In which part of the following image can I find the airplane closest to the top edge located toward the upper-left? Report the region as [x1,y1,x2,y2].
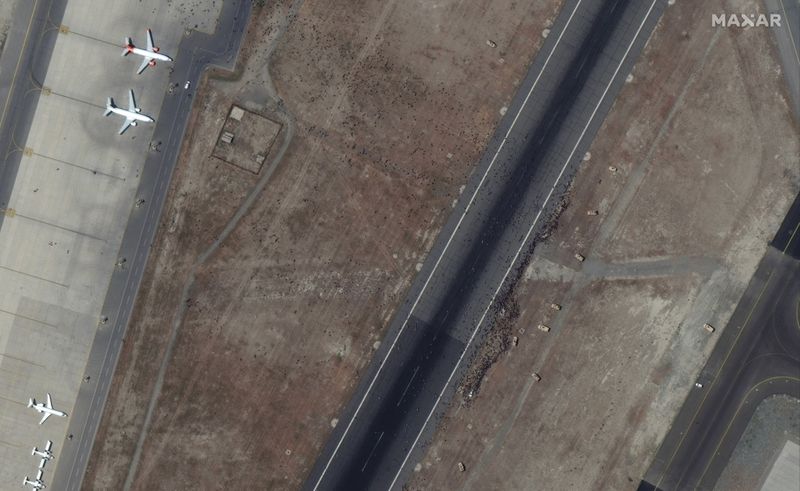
[123,30,172,73]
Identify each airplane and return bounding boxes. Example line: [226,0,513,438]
[28,393,66,424]
[23,472,45,491]
[123,30,172,73]
[105,91,153,134]
[31,443,53,469]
